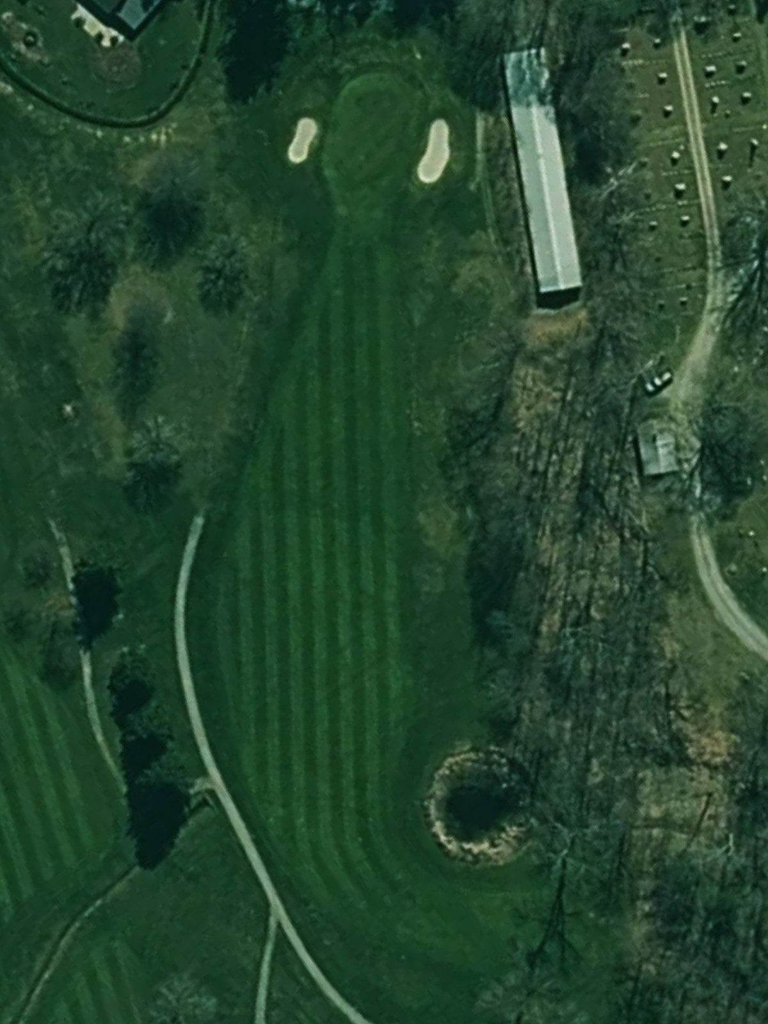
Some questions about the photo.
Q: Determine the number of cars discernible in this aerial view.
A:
1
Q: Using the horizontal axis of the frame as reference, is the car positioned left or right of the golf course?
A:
to the right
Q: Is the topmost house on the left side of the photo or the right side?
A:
left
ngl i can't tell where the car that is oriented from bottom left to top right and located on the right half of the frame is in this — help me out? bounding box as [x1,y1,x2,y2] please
[644,371,671,393]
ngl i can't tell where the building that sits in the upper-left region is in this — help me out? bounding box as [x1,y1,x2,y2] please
[102,0,161,29]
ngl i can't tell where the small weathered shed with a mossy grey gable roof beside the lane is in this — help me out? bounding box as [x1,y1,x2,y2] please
[638,421,679,474]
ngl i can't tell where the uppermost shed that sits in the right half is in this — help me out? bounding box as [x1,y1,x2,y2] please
[504,47,583,294]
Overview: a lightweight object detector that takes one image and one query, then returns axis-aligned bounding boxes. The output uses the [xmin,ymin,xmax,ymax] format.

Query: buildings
[102,0,161,29]
[504,47,583,294]
[638,421,679,474]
